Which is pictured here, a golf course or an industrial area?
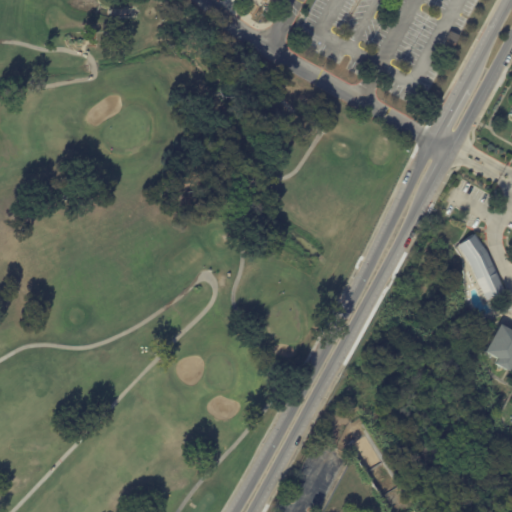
golf course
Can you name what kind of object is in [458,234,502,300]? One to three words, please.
building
